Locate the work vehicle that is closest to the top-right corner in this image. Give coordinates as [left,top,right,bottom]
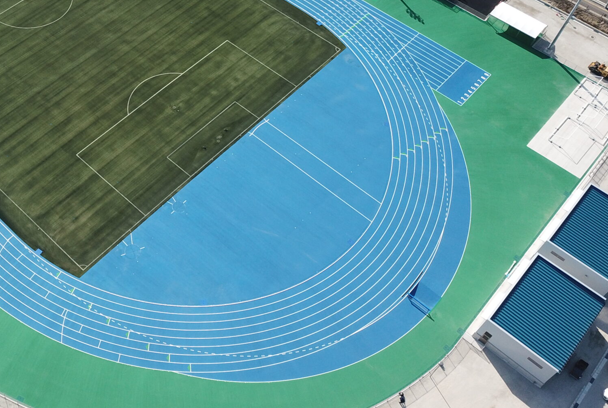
[581,54,608,78]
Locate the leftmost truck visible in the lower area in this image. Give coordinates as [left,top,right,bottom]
[568,352,594,384]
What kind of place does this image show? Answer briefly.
sports ground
